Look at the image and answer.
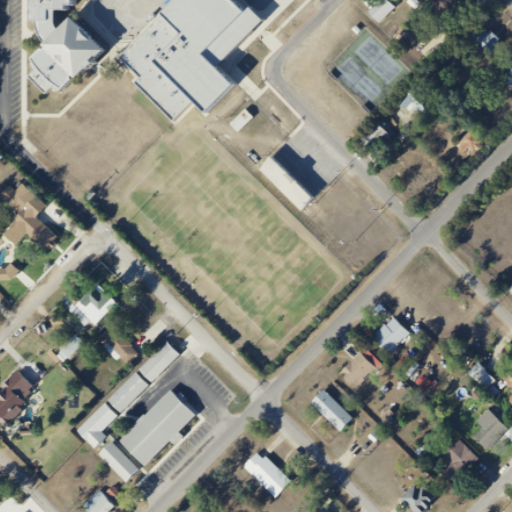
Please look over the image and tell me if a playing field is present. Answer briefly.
Yes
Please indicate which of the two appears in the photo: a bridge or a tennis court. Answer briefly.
tennis court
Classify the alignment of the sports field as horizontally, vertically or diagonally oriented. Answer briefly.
diagonally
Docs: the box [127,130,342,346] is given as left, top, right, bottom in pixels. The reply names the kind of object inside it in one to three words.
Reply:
sports field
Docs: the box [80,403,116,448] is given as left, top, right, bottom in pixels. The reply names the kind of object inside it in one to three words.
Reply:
shed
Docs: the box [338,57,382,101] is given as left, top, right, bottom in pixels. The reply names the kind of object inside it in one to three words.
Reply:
tennis court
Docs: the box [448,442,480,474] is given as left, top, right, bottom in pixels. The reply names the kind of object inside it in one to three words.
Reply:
house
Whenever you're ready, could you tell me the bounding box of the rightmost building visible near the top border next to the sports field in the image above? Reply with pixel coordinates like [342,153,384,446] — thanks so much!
[116,0,261,120]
